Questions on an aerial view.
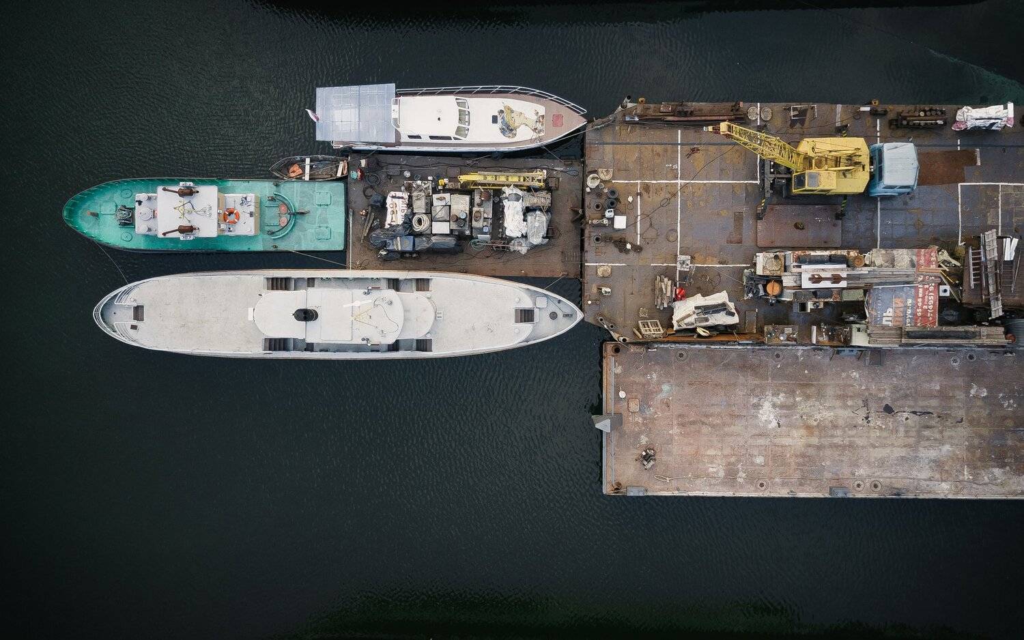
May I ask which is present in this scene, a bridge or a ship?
ship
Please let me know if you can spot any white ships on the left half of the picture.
Yes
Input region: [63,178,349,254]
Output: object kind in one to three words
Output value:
boat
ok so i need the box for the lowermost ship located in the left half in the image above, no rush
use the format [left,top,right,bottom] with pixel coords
[92,269,584,360]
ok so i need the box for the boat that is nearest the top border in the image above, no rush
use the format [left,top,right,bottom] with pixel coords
[306,84,588,160]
